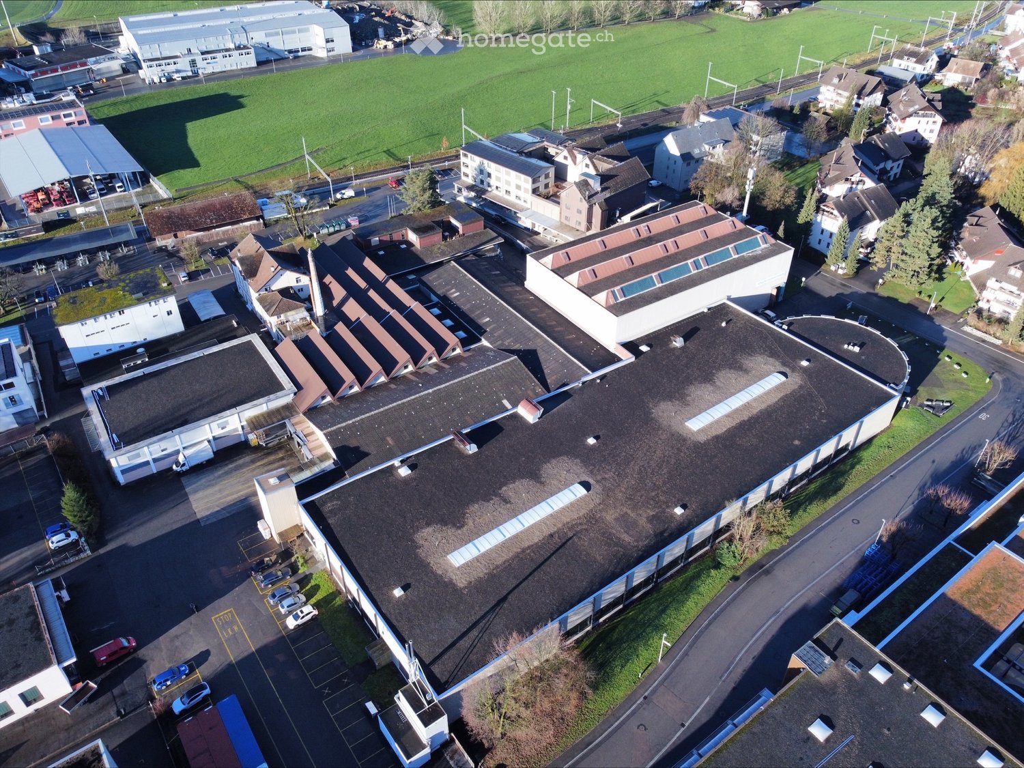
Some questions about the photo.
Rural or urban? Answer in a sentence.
The area shown here is urban.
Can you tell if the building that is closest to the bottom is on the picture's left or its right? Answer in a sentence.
The building that is closest to the bottom is on the left side of the image.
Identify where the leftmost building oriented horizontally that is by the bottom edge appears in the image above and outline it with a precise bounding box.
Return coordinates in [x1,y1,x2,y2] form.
[38,737,114,768]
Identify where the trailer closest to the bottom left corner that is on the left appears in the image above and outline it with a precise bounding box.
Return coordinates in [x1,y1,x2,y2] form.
[52,670,105,720]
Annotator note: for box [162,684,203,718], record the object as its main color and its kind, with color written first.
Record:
blue car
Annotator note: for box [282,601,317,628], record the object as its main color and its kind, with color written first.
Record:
white car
